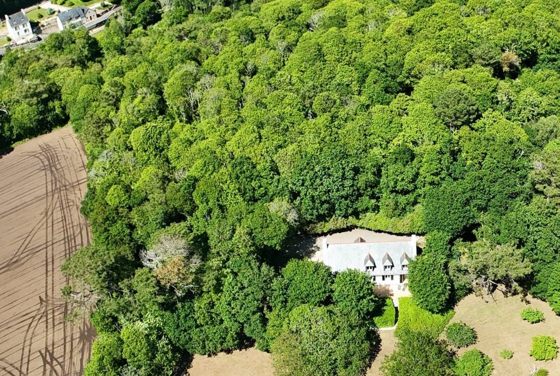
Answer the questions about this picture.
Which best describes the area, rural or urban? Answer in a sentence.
The land in this view is best described as rural.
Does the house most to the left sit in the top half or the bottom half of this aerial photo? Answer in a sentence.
It is in the top half that the house most to the left appears.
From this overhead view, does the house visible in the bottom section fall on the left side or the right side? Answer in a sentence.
The house visible in the bottom section sits on the right side.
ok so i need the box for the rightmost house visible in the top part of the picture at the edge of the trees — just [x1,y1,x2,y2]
[58,4,109,34]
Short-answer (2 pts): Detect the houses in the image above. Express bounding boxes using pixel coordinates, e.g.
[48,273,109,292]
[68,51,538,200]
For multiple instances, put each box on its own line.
[3,6,46,50]
[58,4,109,34]
[323,232,417,285]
